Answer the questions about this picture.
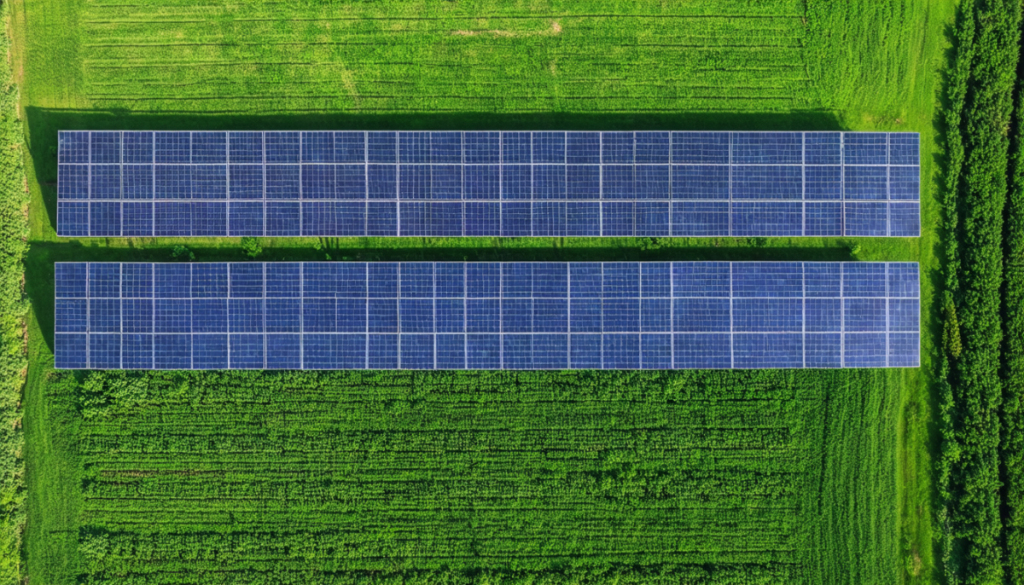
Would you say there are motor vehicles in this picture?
No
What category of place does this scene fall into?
solar farm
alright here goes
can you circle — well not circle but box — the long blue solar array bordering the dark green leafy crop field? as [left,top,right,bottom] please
[55,262,920,369]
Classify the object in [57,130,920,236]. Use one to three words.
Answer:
solar array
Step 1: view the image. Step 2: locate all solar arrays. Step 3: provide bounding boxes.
[55,262,920,369]
[57,130,920,236]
